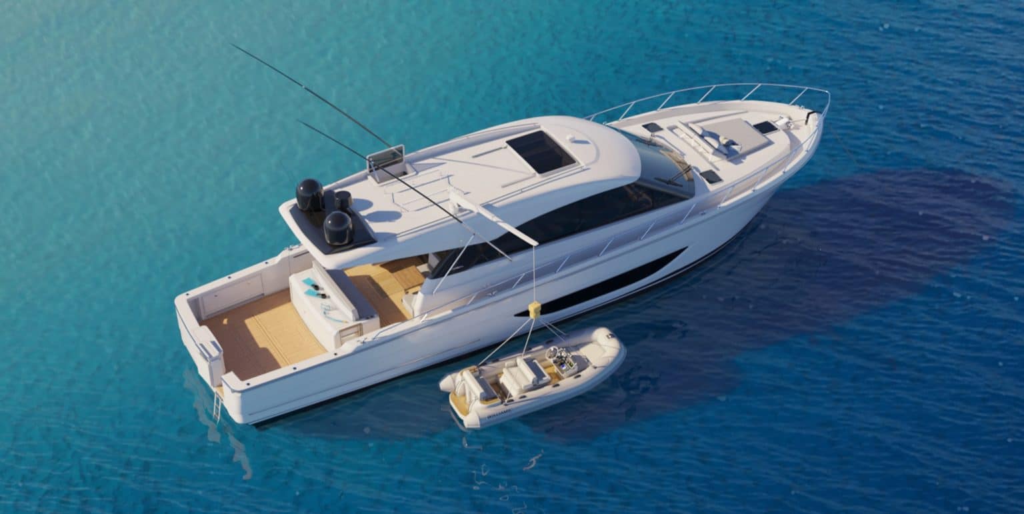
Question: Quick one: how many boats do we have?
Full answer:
I count 2 boats.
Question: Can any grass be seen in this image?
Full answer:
No, the scene doesn't show any grass.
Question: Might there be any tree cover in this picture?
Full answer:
No, tree cover can't be seen anywhere here.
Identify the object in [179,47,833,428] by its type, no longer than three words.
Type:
boat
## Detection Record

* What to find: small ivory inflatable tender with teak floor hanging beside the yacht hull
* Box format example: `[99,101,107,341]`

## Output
[435,327,629,431]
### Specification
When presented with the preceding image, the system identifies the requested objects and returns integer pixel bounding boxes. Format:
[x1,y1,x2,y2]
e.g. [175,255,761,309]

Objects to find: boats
[435,327,629,431]
[179,47,833,428]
